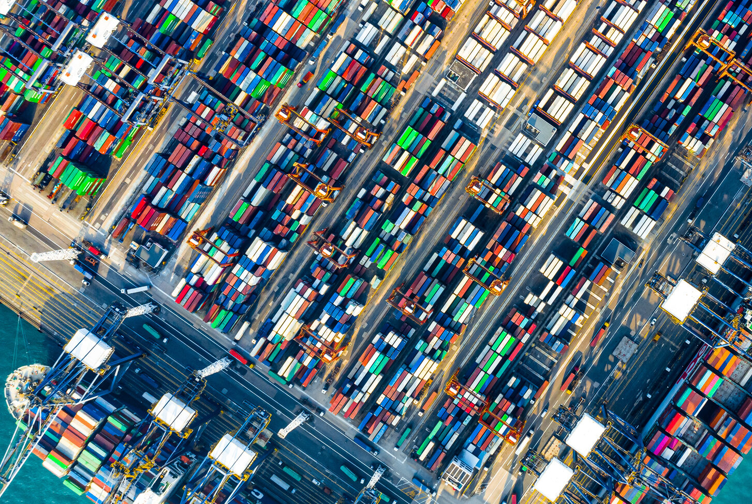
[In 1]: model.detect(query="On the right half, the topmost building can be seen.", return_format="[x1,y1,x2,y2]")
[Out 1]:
[445,60,477,91]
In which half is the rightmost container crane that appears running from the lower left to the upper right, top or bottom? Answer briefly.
bottom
